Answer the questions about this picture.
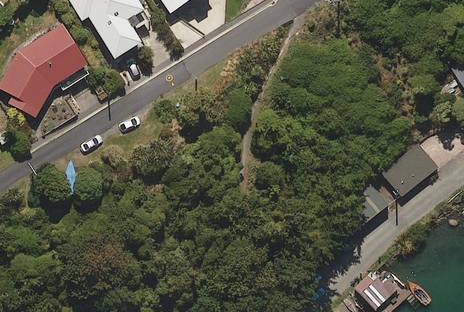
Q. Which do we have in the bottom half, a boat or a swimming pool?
boat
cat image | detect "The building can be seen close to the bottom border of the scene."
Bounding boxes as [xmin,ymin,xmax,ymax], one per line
[354,272,420,312]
